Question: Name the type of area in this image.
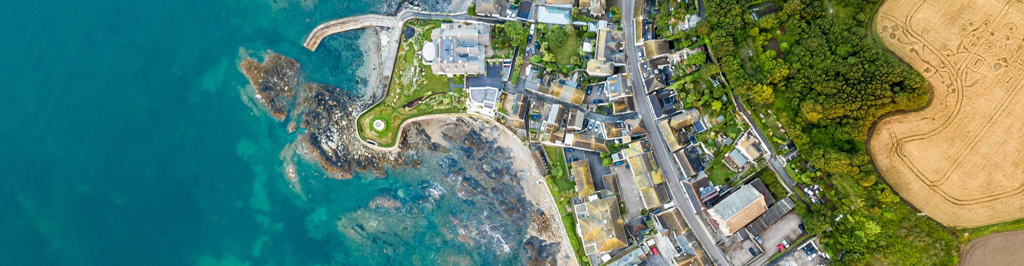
residential area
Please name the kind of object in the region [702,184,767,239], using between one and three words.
building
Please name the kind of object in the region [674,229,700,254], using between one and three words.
house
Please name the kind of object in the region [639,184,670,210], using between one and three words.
house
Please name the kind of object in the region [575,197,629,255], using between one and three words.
building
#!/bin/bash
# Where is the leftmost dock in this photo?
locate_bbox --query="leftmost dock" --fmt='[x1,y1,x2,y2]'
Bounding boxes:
[304,14,396,52]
